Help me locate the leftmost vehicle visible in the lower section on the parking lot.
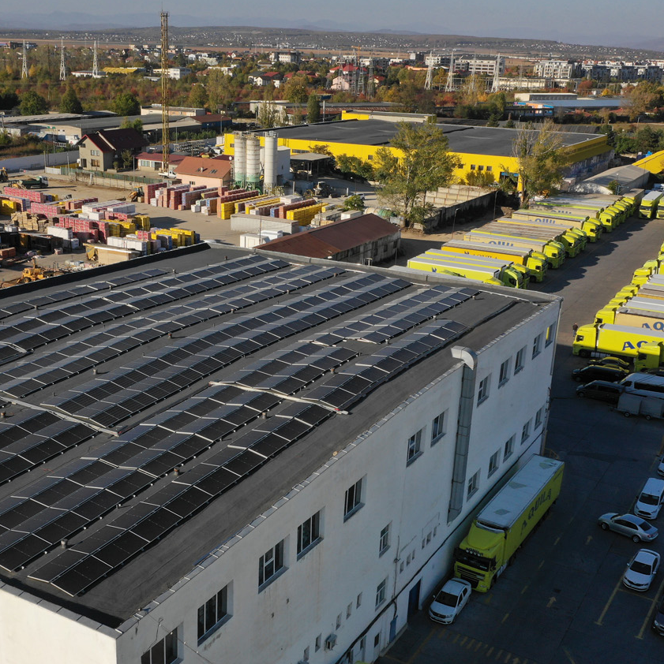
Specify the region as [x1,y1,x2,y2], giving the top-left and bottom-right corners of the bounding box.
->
[427,581,473,627]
